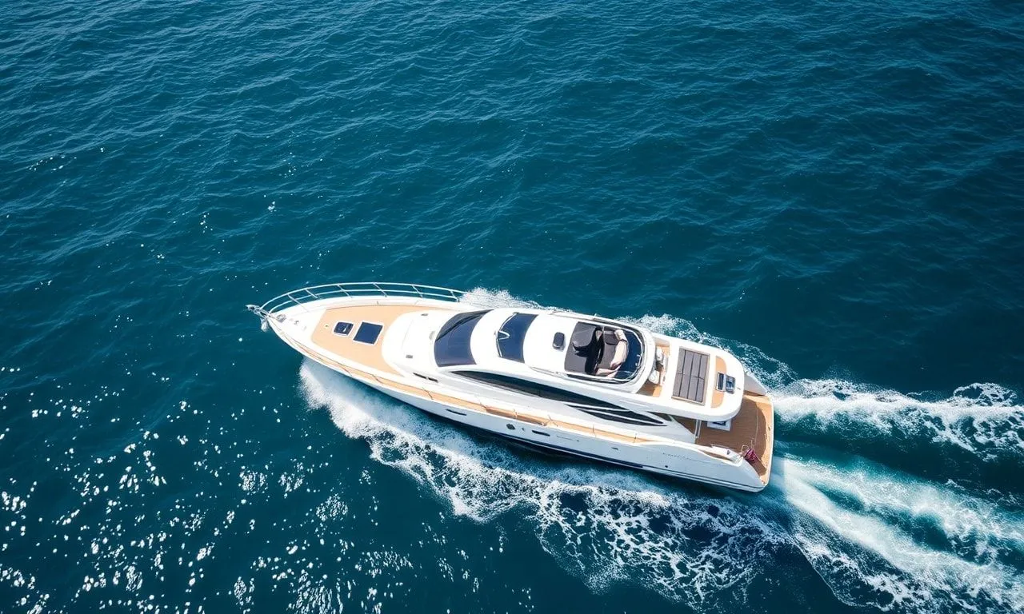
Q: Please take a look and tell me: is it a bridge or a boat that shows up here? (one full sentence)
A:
The image shows a boat.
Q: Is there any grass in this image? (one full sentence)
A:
No, there is no grass in the image.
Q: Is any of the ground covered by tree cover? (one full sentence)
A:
No, no tree cover is visible.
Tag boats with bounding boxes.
[246,285,774,493]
